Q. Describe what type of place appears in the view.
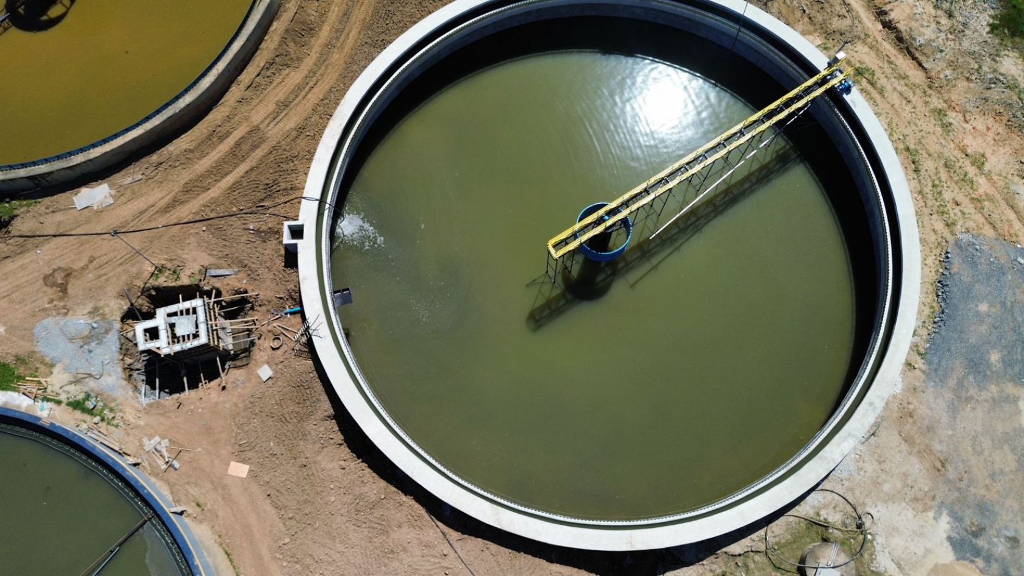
industrial area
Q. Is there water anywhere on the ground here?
Yes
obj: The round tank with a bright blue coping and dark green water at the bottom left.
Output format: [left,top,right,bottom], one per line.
[0,403,217,576]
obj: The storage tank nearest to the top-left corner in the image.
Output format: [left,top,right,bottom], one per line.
[0,0,280,194]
